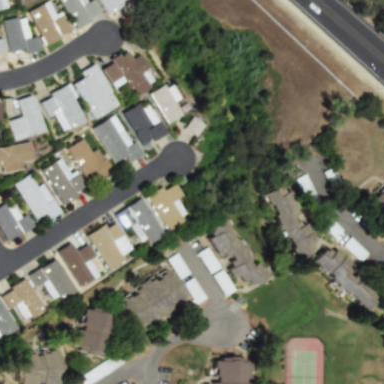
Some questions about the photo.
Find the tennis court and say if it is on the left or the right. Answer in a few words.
right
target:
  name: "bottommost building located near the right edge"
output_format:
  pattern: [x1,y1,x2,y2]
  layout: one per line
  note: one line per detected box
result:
[318,252,378,310]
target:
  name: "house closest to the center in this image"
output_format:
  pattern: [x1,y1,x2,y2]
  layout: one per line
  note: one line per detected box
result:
[150,186,188,230]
